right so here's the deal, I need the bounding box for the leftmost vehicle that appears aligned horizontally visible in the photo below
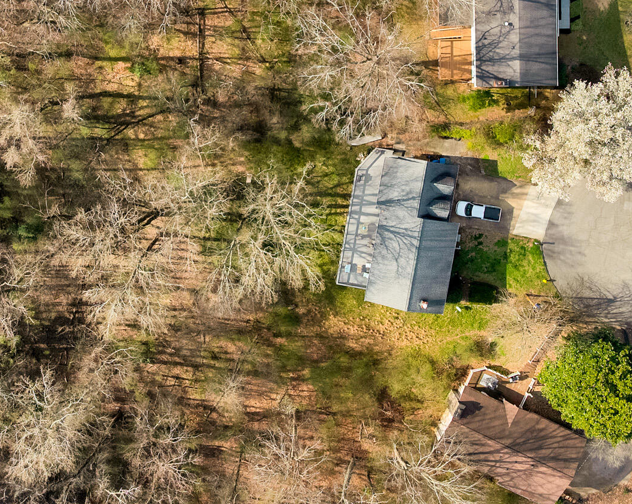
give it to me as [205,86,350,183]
[455,201,503,222]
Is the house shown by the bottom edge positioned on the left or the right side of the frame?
right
